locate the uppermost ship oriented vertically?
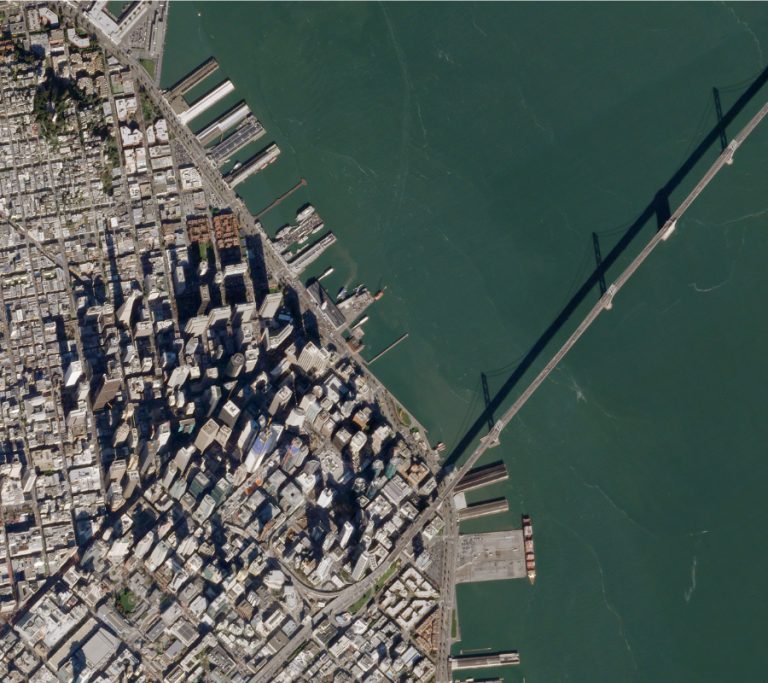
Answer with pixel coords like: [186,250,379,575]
[522,516,536,585]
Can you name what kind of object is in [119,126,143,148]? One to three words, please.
building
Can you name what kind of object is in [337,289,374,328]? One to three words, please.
pier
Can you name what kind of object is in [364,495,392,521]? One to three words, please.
building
